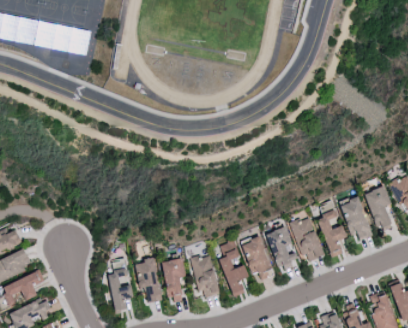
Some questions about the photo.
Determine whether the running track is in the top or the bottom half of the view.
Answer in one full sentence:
The top half of the photo is where the running track is.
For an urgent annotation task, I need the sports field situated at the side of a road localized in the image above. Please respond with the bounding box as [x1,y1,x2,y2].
[137,0,270,95]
